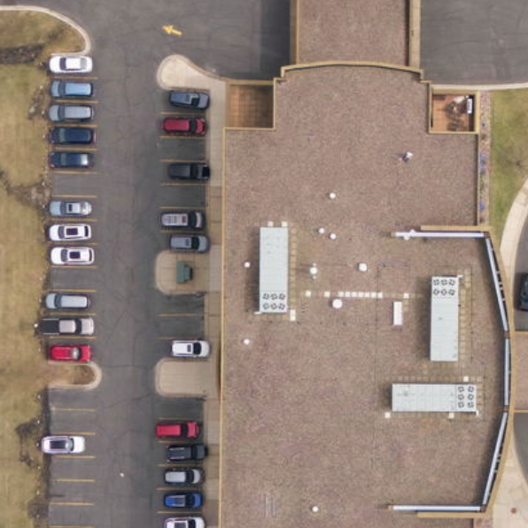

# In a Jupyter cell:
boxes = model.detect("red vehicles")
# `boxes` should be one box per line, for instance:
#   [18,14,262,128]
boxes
[156,421,201,441]
[50,343,94,364]
[162,114,206,135]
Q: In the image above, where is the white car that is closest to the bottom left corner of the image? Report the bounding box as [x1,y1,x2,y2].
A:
[42,434,86,454]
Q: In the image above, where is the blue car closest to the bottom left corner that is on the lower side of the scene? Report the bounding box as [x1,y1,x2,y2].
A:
[164,490,204,511]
